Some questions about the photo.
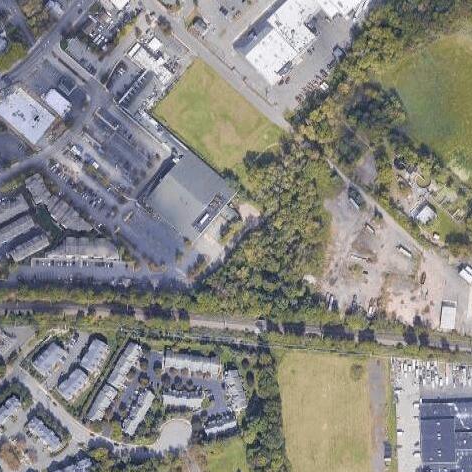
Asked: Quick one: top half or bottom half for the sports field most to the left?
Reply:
top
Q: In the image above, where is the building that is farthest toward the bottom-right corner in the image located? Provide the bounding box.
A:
[421,401,472,472]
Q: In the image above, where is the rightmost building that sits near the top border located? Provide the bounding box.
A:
[245,0,357,86]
